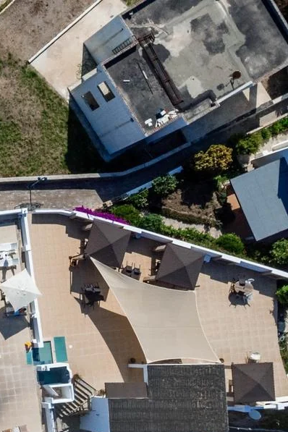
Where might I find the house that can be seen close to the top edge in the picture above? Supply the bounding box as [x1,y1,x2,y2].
[63,0,288,164]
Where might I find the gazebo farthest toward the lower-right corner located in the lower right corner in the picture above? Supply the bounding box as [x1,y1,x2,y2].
[224,362,276,404]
